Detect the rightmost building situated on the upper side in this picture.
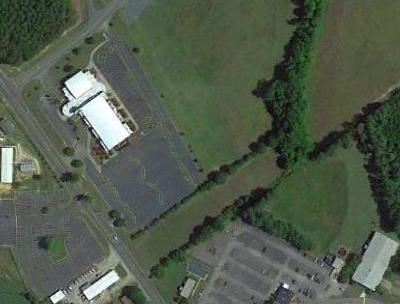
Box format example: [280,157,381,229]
[61,71,132,151]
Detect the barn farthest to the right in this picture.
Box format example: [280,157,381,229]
[353,231,400,290]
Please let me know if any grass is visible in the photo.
Yes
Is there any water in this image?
No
